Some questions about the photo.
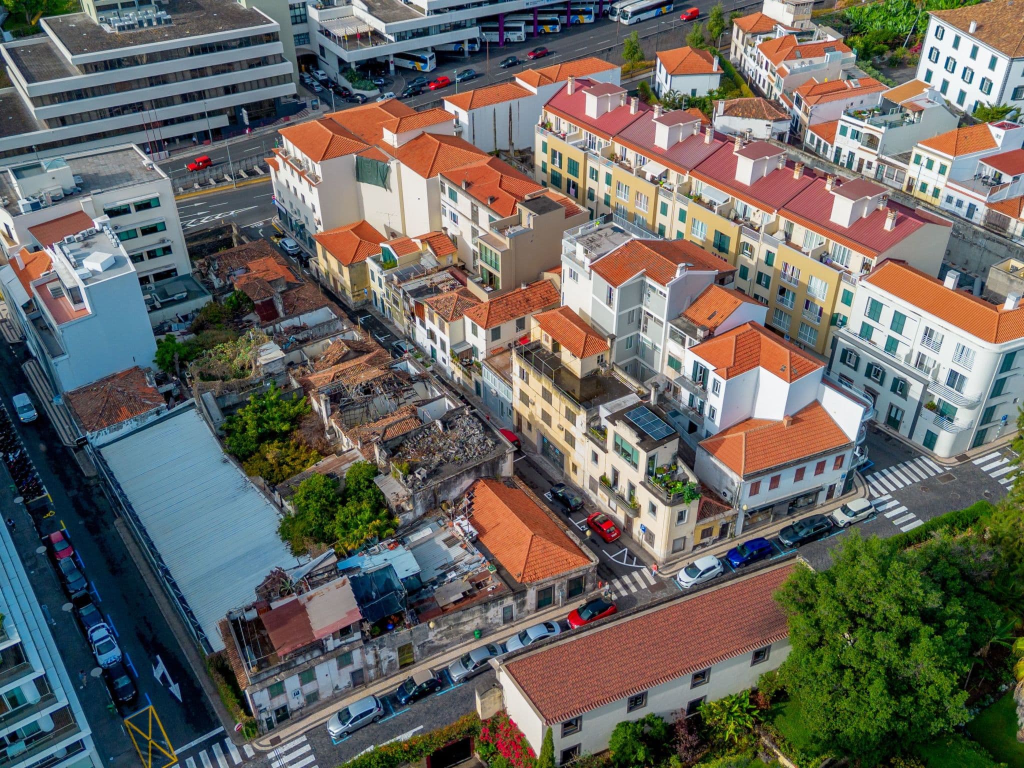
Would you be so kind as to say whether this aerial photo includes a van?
Yes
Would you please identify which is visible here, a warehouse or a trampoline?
warehouse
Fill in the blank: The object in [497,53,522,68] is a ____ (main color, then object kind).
black car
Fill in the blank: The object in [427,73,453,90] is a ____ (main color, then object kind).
red car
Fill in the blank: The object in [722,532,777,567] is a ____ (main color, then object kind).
blue car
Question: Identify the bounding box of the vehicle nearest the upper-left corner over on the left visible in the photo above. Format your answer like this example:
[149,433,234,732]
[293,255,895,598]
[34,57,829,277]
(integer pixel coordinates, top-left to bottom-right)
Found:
[183,149,217,168]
